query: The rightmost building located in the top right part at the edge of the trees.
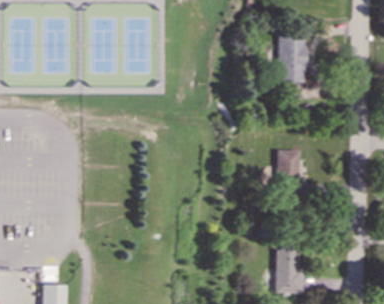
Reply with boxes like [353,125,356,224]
[278,36,309,84]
